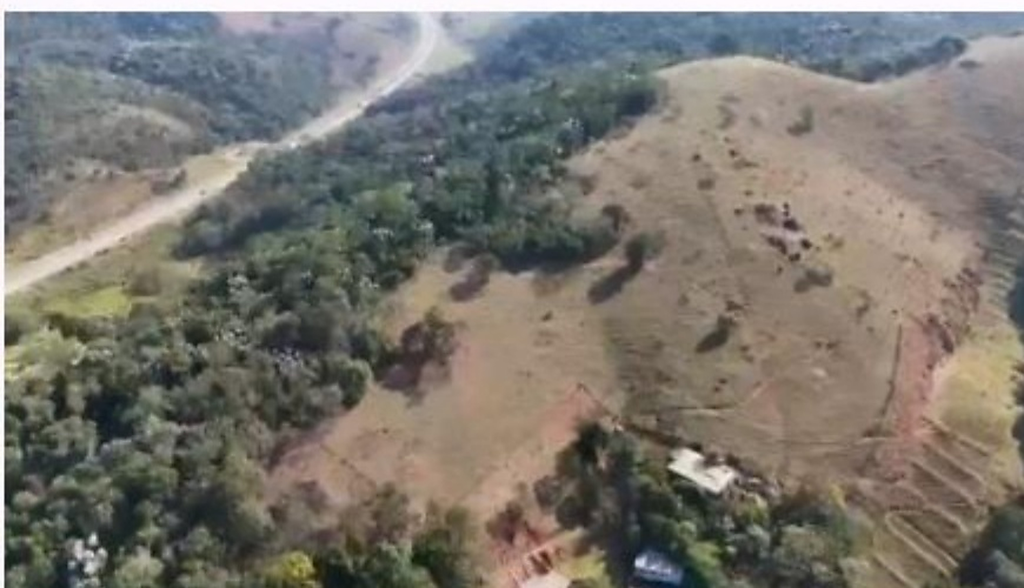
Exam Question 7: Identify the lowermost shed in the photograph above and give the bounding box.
[636,548,686,588]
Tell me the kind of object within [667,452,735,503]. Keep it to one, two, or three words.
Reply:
house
